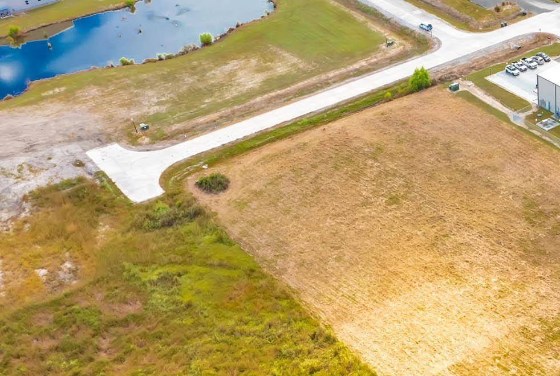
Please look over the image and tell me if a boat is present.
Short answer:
No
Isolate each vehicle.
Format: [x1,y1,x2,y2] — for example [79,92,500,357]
[416,21,435,32]
[510,60,529,73]
[503,63,519,75]
[536,50,551,62]
[518,57,539,69]
[529,53,545,65]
